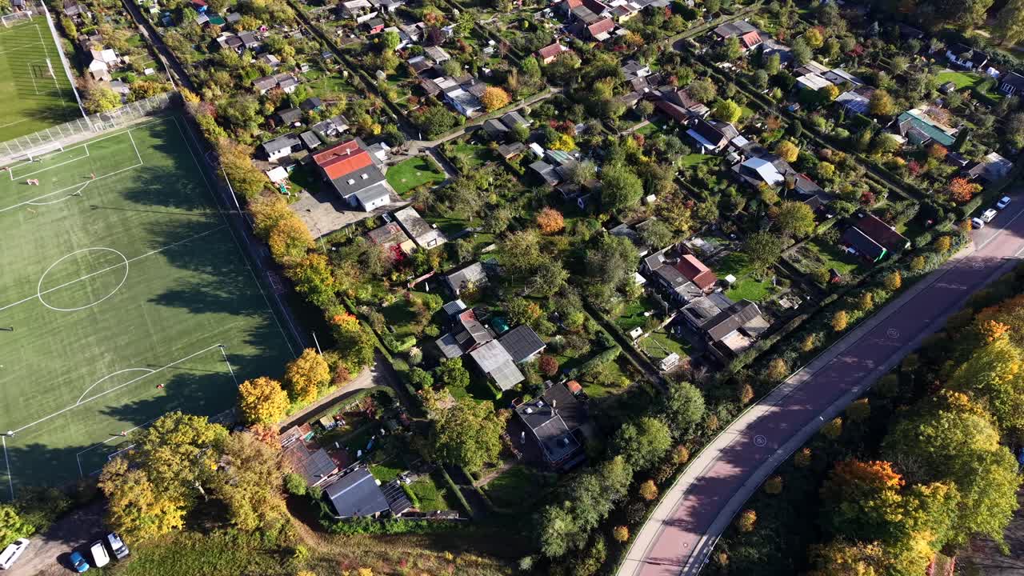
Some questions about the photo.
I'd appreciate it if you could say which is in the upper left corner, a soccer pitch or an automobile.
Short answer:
soccer pitch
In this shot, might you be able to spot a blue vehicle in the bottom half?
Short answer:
Yes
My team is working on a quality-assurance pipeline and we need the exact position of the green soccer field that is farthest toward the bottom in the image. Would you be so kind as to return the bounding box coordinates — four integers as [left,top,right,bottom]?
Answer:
[0,110,321,515]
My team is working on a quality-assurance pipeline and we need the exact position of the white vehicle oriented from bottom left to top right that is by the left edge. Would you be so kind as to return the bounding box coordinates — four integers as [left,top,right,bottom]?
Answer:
[0,541,29,572]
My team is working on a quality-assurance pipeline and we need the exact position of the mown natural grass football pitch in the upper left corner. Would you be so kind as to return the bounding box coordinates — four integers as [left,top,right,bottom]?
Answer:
[0,0,85,155]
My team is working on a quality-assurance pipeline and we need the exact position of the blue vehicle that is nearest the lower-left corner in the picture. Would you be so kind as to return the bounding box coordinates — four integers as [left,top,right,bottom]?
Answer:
[70,552,90,574]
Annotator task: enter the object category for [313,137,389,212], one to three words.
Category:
building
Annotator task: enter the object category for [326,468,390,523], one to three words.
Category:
house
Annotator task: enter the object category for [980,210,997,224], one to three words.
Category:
car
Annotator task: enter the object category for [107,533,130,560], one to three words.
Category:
car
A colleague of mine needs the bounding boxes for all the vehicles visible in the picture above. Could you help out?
[0,541,29,572]
[89,540,111,569]
[973,216,987,231]
[107,533,130,560]
[70,552,90,574]
[995,196,1012,209]
[980,210,997,224]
